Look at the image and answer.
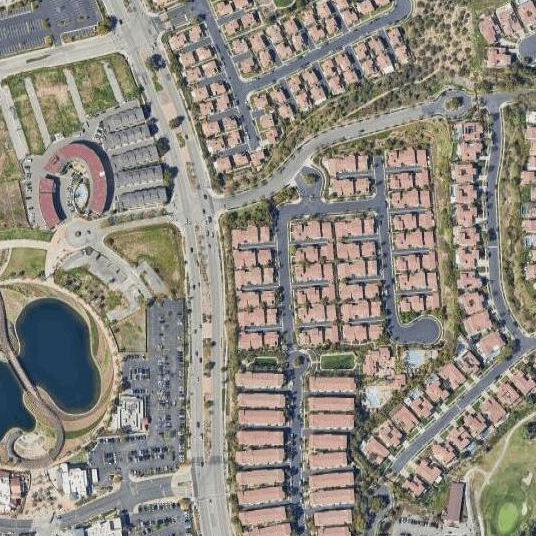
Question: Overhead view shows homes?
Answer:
Yes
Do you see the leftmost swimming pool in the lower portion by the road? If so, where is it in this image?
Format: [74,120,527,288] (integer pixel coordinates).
[364,386,392,408]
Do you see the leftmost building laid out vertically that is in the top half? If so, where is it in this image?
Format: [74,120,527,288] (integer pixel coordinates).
[38,175,60,229]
